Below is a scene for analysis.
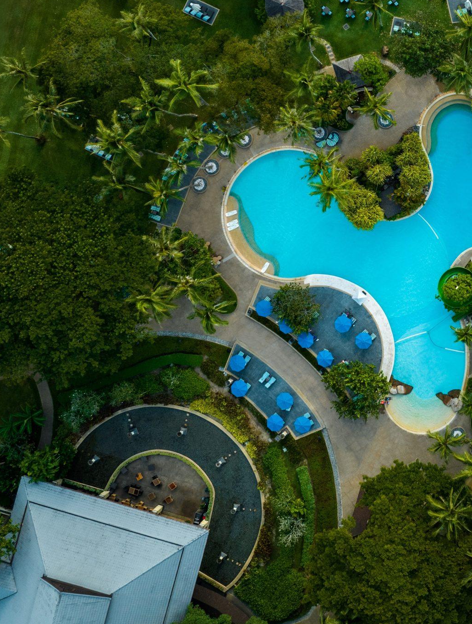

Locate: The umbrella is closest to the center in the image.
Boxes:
[257,299,274,317]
